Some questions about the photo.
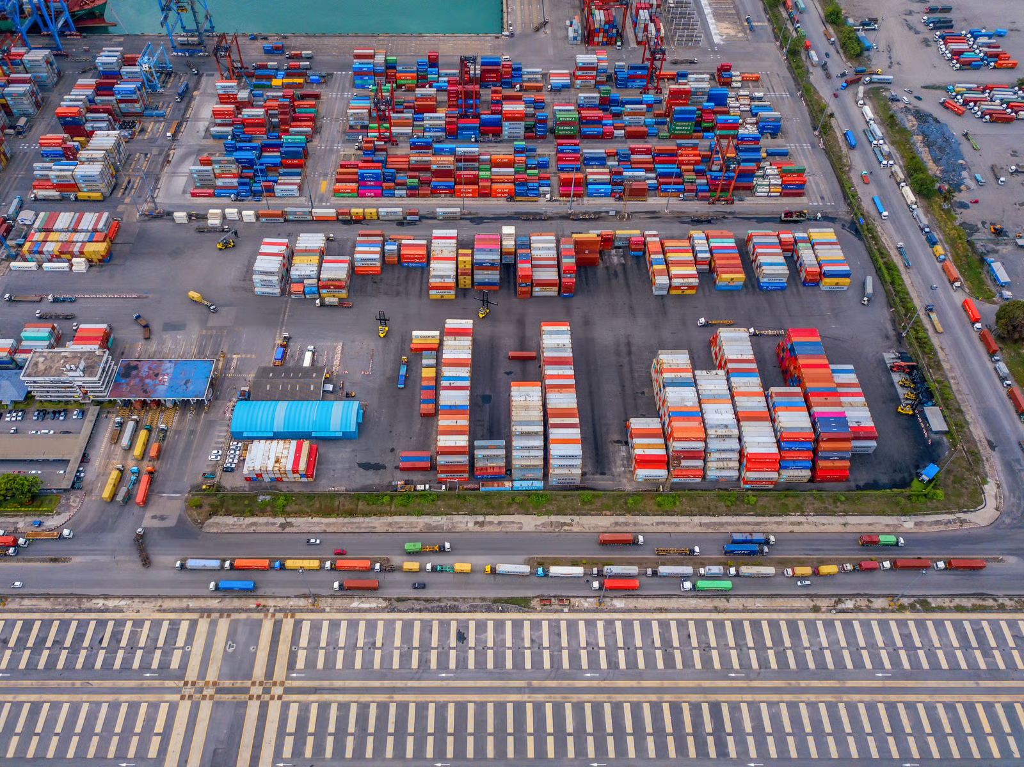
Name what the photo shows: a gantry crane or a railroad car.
gantry crane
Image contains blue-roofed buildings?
Yes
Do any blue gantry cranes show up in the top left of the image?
Yes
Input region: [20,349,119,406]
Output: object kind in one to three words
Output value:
building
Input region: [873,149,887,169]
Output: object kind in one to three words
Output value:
vehicle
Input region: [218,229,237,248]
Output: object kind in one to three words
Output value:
work vehicle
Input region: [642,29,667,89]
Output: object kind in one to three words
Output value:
container crane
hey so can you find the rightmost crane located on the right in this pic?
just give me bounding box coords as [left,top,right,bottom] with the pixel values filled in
[705,131,742,200]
